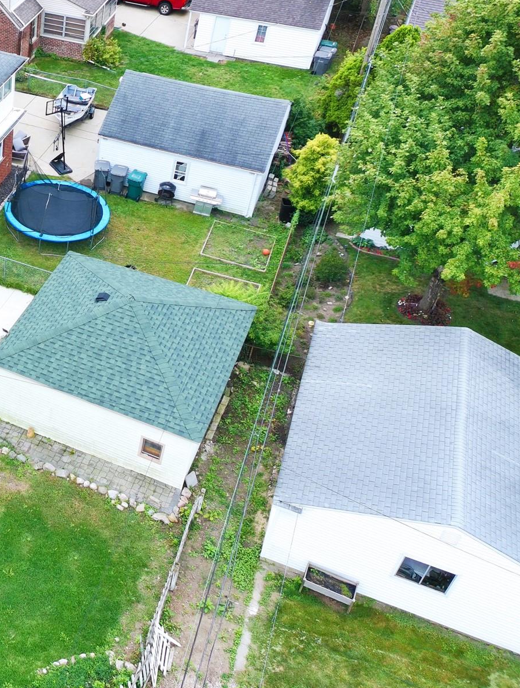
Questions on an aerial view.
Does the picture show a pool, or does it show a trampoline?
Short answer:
trampoline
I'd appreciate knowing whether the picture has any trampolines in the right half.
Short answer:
No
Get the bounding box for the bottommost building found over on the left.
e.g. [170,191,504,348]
[0,247,263,488]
